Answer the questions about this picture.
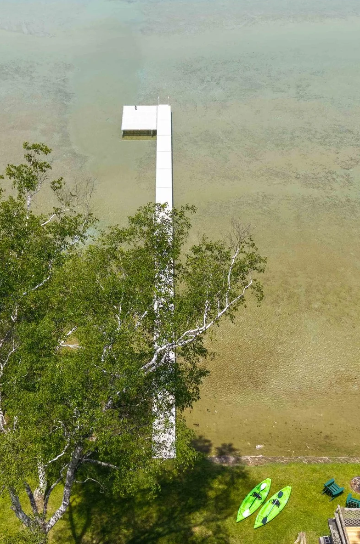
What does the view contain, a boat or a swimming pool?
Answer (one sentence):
The one in the frame is a boat.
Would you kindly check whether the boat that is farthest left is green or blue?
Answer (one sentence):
The boat that is farthest left is green.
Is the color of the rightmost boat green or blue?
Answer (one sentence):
From above, the rightmost boat appears green.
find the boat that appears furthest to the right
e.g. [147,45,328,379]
[255,486,289,529]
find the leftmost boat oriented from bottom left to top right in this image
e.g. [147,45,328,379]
[237,478,270,523]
